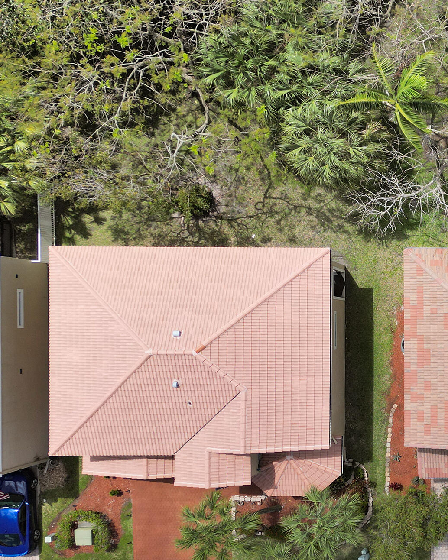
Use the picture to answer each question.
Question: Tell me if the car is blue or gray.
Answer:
blue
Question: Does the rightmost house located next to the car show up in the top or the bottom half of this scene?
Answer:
bottom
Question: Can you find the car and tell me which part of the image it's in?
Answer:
bottom left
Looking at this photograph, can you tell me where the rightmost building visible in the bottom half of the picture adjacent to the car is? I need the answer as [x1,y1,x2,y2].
[46,245,346,498]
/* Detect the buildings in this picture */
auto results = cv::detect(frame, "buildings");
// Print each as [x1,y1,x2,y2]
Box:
[402,246,448,481]
[46,245,346,498]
